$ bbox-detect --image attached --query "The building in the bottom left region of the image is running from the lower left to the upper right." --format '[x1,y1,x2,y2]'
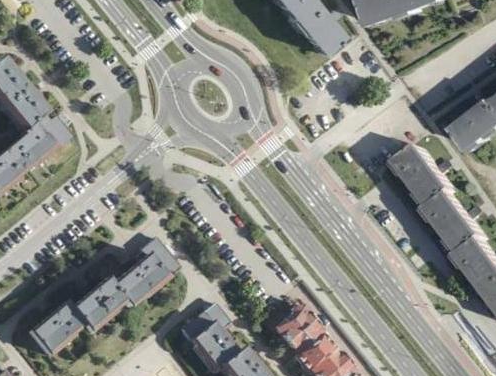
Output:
[29,239,181,363]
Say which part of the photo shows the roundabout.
top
